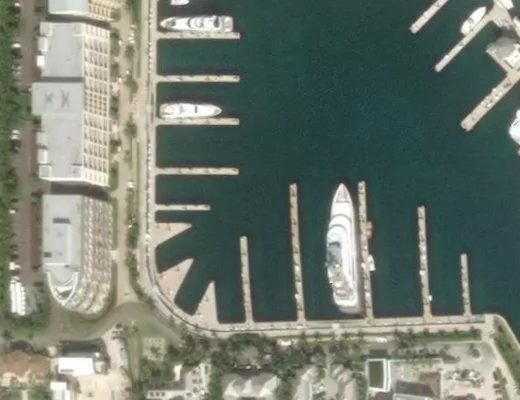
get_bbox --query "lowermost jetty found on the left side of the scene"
[190,281,219,323]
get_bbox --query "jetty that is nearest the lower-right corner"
[461,253,474,315]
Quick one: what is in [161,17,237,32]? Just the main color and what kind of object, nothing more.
white boat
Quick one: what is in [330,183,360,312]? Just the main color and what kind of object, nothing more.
white boat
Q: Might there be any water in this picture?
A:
Yes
